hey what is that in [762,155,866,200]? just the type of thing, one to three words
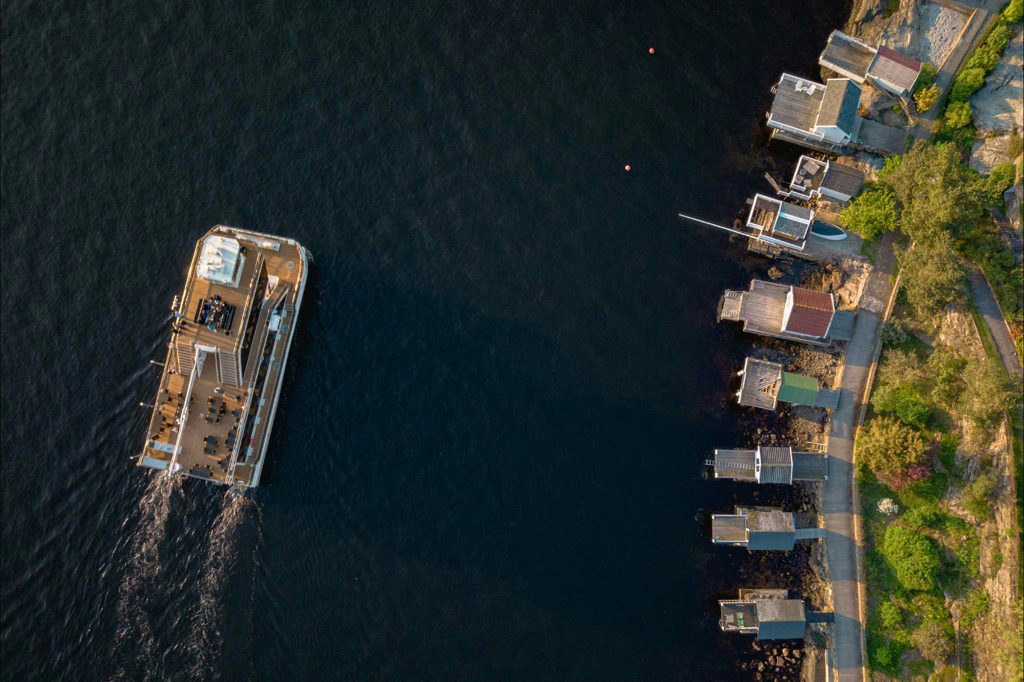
building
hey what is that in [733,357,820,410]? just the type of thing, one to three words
building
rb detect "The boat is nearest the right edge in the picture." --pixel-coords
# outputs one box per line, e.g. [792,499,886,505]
[808,219,848,241]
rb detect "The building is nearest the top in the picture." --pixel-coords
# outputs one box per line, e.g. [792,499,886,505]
[813,29,923,101]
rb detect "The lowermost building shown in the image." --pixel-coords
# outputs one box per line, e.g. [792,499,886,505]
[714,588,807,640]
